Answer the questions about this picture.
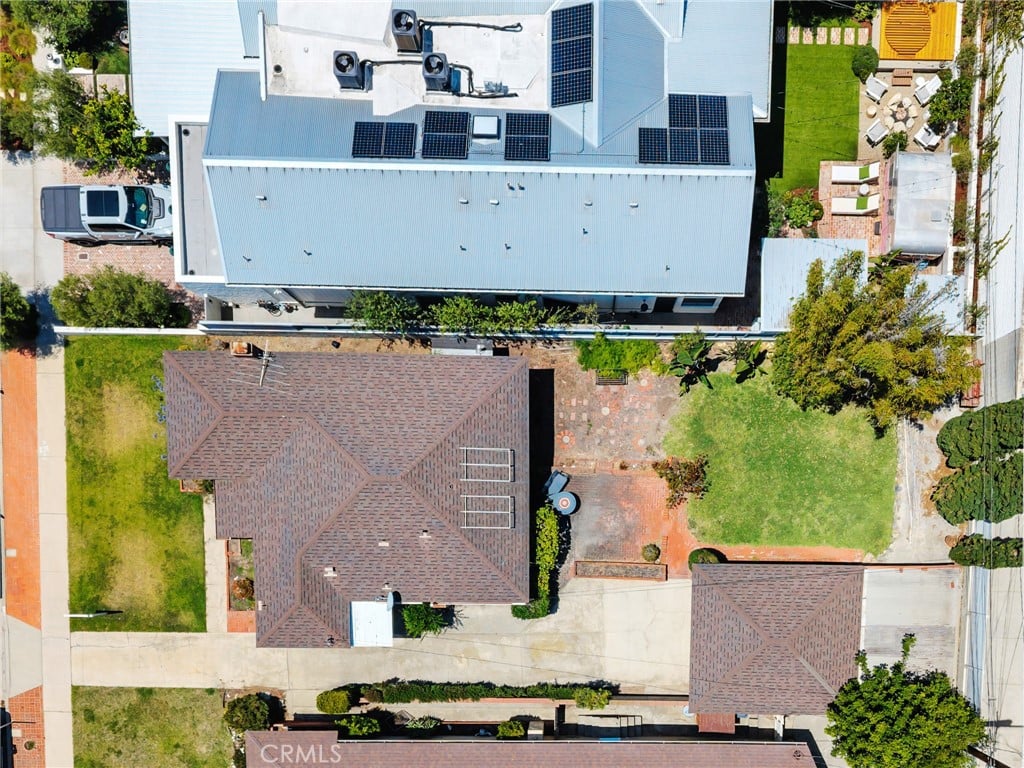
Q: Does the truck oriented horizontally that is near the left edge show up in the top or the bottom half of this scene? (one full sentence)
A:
The truck oriented horizontally that is near the left edge is in the top half of the image.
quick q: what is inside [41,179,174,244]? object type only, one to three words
truck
